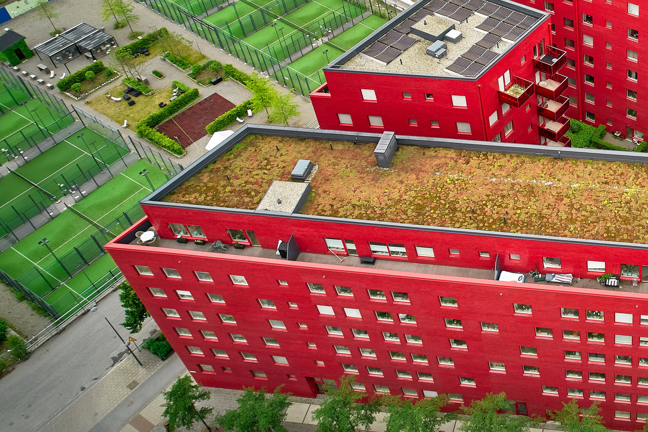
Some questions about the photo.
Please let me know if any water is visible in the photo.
No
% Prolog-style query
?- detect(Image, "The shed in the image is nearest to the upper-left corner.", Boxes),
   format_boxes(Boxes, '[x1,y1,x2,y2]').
[0,31,31,67]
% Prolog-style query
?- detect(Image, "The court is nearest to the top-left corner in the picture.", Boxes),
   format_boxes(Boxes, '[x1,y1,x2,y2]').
[0,66,32,116]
